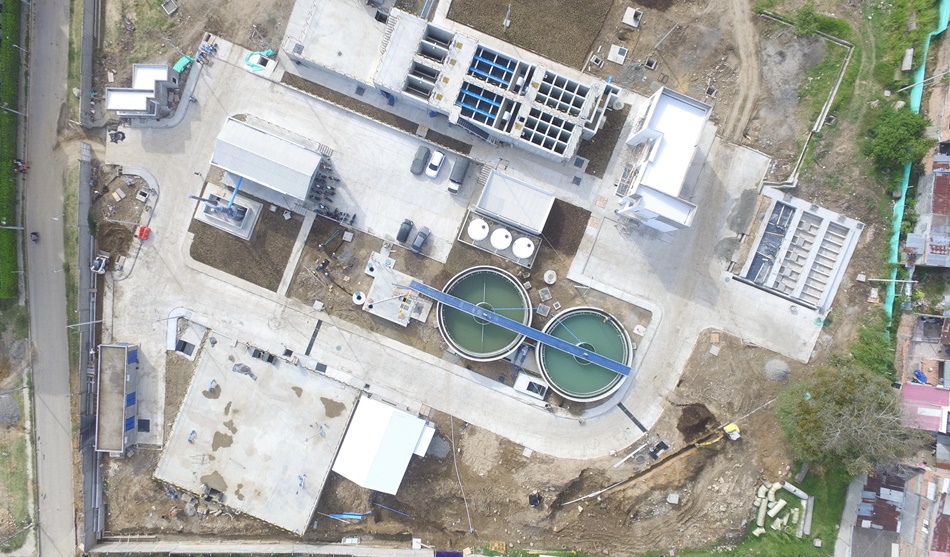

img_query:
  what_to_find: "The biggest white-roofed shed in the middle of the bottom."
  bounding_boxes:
[331,394,437,494]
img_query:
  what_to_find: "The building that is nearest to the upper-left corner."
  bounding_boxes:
[107,64,181,117]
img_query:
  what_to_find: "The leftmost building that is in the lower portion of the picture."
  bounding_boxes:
[95,342,160,460]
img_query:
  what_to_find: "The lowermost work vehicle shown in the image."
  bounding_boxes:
[705,423,743,443]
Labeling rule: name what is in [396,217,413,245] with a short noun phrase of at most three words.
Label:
car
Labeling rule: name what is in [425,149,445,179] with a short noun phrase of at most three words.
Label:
car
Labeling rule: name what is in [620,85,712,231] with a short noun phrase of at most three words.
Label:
building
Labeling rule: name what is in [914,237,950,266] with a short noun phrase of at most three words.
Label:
house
